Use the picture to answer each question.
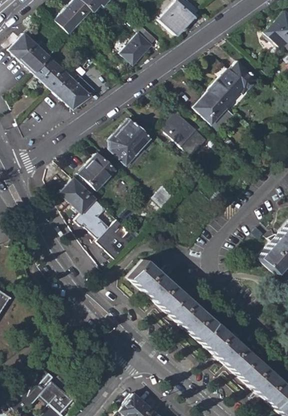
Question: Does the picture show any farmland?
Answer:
No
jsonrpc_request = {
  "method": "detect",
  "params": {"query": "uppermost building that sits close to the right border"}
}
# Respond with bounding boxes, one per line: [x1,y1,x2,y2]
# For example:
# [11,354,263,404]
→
[258,9,288,52]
